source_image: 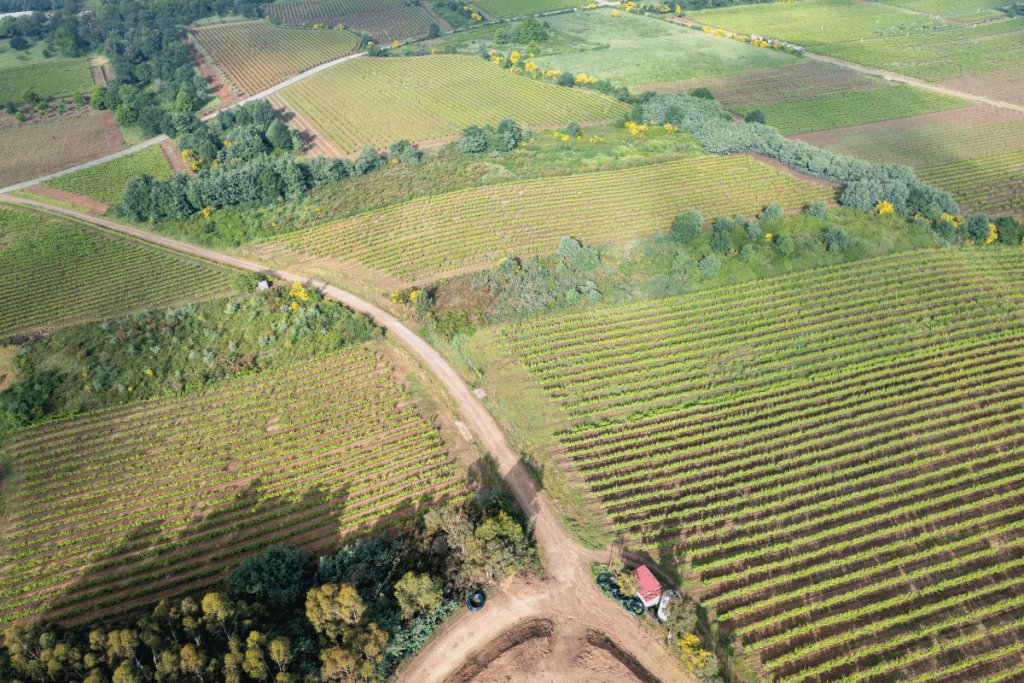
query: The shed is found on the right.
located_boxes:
[630,571,663,607]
